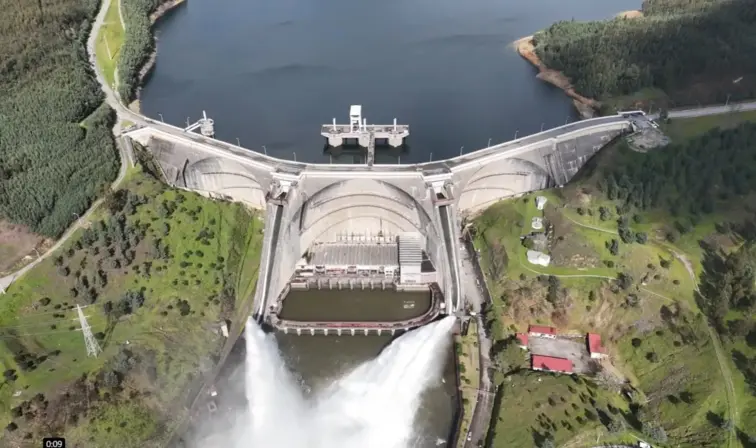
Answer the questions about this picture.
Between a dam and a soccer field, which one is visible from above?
dam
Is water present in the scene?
Yes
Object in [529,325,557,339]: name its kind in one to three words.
house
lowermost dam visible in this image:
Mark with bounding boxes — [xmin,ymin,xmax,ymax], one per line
[277,286,439,340]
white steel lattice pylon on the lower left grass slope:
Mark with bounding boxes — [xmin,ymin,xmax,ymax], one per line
[0,303,107,361]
